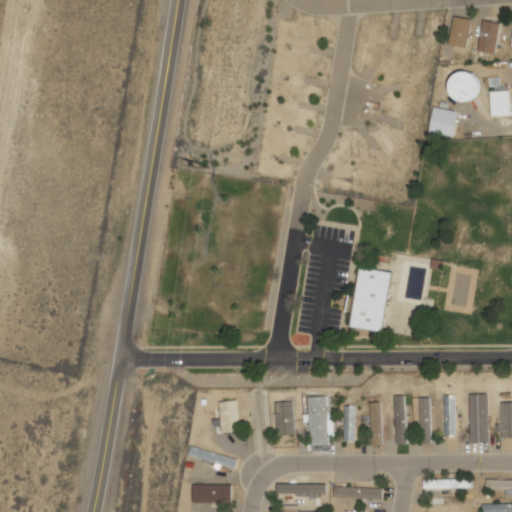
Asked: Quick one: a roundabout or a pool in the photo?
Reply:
pool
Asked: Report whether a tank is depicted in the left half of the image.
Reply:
No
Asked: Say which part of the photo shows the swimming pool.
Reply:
right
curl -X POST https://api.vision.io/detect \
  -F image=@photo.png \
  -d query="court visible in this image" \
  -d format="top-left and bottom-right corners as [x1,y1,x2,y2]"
[445,266,479,314]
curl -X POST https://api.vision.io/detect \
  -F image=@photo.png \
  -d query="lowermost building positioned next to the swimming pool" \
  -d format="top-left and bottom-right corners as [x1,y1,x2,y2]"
[349,268,392,330]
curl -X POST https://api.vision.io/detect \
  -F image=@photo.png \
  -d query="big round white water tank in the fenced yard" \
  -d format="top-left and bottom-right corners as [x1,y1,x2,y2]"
[447,69,482,104]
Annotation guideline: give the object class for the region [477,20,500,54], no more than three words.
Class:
house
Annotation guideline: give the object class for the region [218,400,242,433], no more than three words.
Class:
house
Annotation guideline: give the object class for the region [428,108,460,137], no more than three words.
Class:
building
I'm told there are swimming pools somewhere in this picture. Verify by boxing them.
[398,262,431,304]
